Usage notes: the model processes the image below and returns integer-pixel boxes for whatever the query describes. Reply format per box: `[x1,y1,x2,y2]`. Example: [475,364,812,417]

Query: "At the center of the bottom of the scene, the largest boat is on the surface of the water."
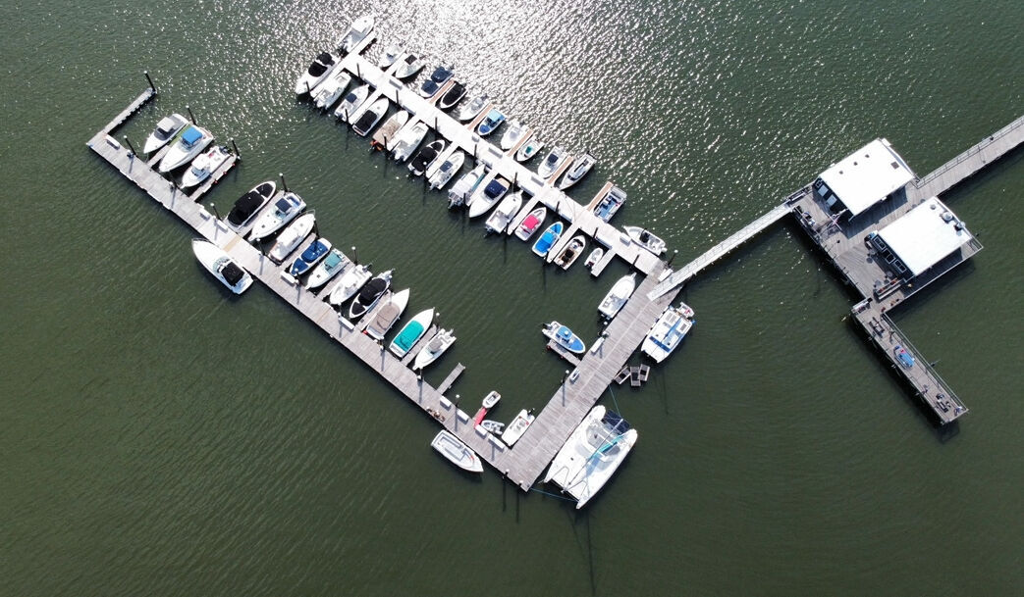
[542,406,636,512]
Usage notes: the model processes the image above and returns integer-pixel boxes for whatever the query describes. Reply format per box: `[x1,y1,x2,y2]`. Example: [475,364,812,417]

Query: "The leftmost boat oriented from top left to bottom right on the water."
[191,238,259,299]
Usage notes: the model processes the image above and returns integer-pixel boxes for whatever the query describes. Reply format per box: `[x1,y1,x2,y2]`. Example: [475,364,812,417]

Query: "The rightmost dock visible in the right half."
[787,119,1024,431]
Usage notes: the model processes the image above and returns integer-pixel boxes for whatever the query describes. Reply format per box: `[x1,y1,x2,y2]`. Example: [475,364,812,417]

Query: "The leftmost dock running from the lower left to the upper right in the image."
[497,258,684,493]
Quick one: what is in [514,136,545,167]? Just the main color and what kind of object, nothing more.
white boat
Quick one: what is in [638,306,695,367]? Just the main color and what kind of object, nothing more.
white boat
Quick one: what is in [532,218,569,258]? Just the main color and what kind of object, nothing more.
blue boat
